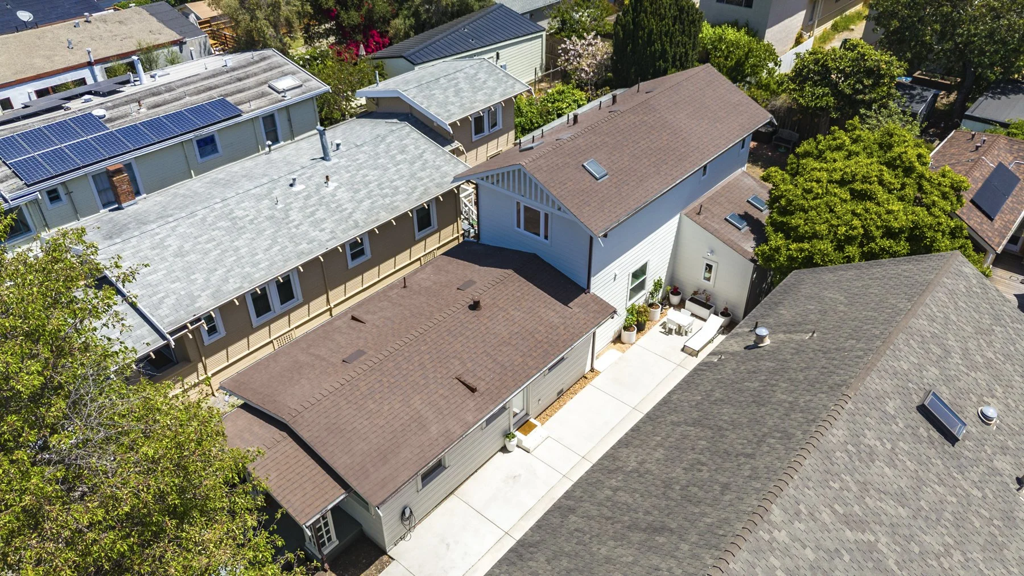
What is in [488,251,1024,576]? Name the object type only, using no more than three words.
house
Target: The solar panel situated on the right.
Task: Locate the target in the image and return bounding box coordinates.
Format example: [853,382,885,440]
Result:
[967,162,1023,221]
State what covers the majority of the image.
buildings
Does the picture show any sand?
No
